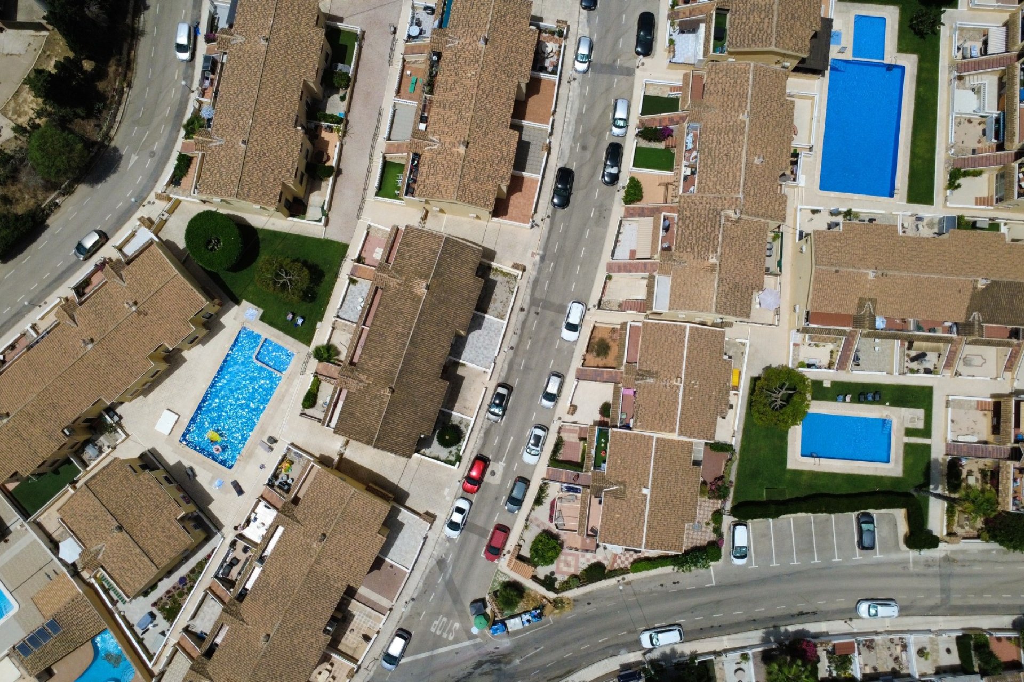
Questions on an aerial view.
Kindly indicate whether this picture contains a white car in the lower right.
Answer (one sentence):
Yes, a white car can be seen in the lower right.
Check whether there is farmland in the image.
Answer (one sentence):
No, there is no farmland in the image.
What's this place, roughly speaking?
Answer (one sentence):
The picture captures a residential area.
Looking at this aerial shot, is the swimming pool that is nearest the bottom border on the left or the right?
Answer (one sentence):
It is on the left.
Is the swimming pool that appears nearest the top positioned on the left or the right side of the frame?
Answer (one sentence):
You can find the swimming pool that appears nearest the top on the right side of the picture.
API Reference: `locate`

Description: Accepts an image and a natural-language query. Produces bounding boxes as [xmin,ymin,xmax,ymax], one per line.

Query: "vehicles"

[521,423,549,464]
[382,627,412,671]
[601,142,623,186]
[580,0,598,10]
[855,512,877,550]
[561,300,585,342]
[552,167,573,209]
[634,12,656,57]
[487,382,512,422]
[539,371,564,409]
[640,624,683,649]
[173,23,195,62]
[74,228,111,262]
[503,475,530,513]
[484,523,511,562]
[855,598,898,620]
[728,521,751,564]
[610,98,630,137]
[462,453,492,494]
[573,36,594,74]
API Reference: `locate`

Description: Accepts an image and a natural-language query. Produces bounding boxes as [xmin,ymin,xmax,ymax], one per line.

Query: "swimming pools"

[819,59,904,197]
[180,326,297,469]
[76,629,132,682]
[852,15,886,58]
[0,586,14,618]
[801,413,891,463]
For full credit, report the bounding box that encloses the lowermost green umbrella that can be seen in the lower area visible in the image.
[473,613,489,630]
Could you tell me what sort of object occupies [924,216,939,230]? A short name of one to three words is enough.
umbrella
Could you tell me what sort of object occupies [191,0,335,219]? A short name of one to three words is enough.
house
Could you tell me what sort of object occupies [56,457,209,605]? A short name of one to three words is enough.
house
